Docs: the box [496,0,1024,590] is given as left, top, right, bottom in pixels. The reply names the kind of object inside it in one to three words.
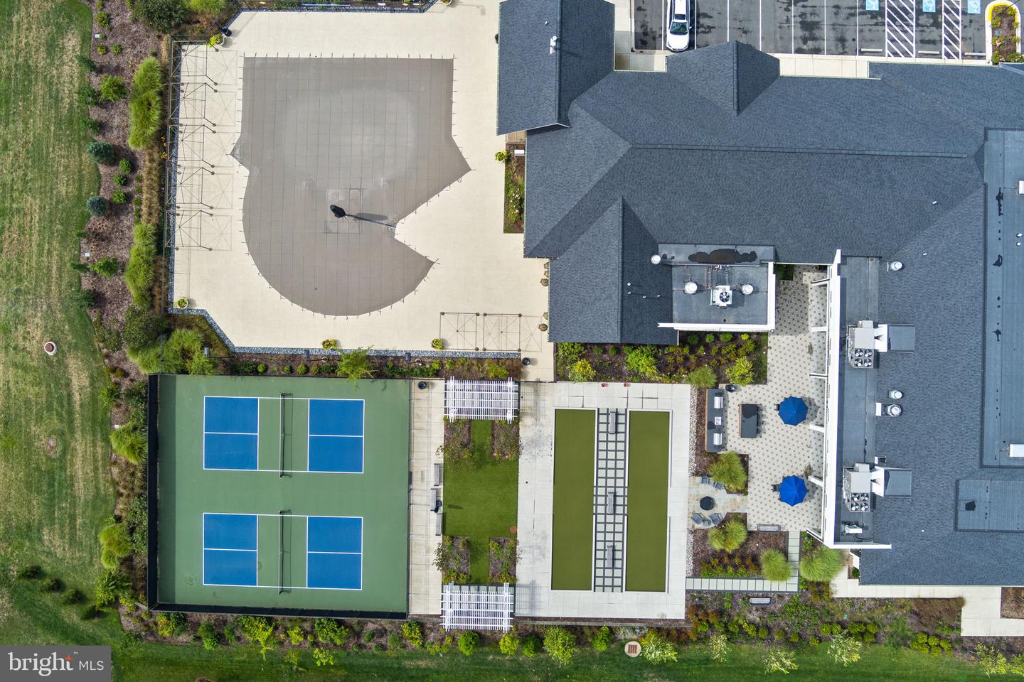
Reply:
building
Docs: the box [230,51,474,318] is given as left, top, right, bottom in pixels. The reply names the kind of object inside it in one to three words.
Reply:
swimming pool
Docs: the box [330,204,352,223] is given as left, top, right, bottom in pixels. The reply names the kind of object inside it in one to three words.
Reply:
umbrella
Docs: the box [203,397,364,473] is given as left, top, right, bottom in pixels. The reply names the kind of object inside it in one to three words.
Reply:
sports court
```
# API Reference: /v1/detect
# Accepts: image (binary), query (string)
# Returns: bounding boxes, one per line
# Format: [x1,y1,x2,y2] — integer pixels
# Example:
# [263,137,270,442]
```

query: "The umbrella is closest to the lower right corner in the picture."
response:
[776,475,806,505]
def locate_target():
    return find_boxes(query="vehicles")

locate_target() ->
[665,0,694,46]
